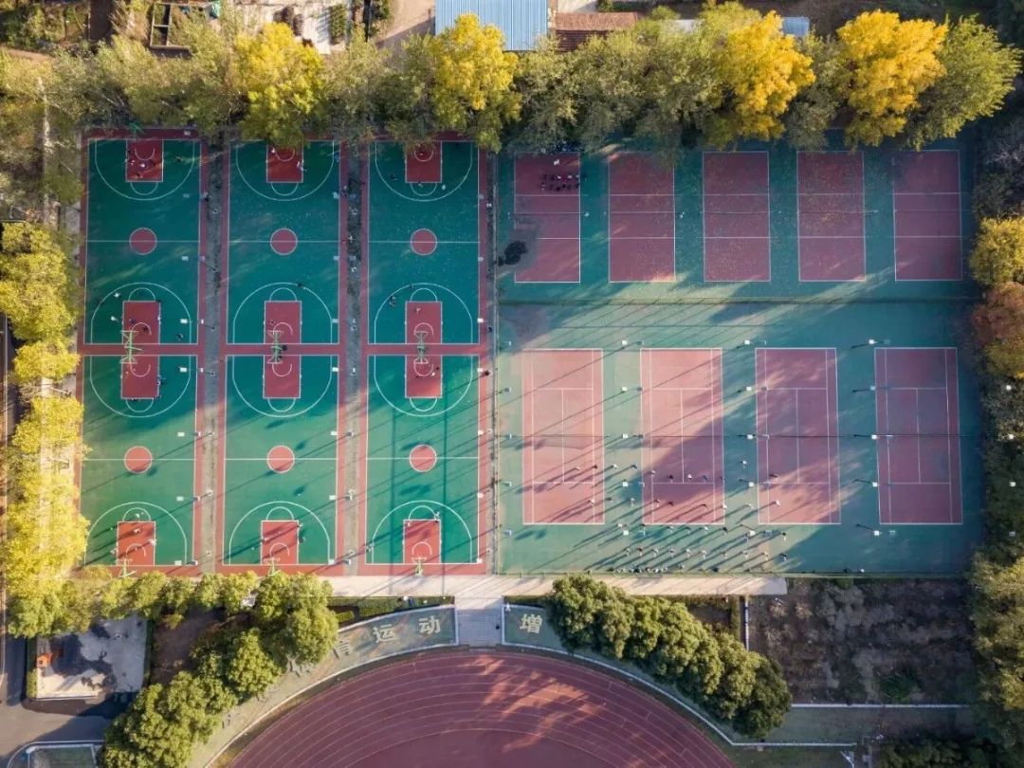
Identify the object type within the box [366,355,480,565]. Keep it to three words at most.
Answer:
basketball court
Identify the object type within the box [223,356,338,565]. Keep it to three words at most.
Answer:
basketball court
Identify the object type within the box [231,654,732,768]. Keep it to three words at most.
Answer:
running track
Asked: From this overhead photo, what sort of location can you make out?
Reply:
sports ground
